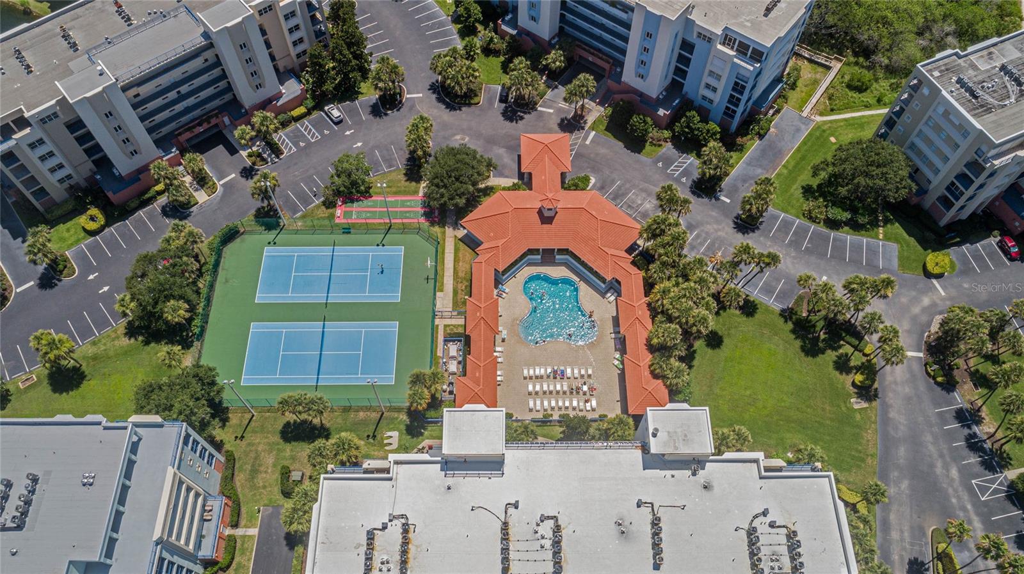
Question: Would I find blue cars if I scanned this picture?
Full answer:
No, there appears to be no blue car in this shot.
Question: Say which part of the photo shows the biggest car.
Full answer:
The biggest car is in the right part of the image.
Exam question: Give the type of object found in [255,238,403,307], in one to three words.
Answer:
tennis court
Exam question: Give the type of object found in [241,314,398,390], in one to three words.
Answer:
tennis court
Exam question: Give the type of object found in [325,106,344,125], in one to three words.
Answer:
car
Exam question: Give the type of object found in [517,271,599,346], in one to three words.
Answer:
swimming pool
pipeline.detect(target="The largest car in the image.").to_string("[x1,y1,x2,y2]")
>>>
[997,237,1023,262]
